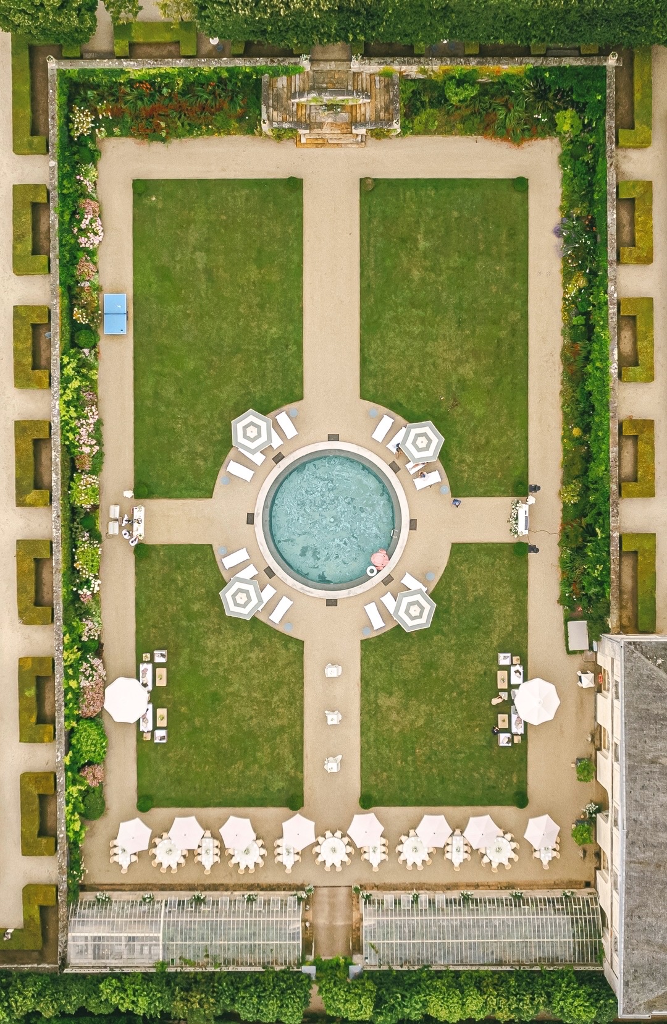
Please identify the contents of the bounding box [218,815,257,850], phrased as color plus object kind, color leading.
white umbrella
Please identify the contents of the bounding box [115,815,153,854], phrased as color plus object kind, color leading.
white umbrella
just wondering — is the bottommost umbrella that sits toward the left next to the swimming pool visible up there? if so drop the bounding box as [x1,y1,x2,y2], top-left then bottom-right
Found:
[219,576,263,619]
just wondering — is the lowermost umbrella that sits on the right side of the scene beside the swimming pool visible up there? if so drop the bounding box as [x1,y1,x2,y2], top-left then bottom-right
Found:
[392,587,436,631]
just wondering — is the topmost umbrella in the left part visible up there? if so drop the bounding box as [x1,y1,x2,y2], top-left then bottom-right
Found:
[231,409,271,454]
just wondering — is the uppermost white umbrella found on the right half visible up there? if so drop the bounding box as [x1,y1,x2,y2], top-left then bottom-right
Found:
[398,421,443,463]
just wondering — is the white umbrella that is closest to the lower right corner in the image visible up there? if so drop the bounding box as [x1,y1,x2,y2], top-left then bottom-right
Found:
[523,812,560,850]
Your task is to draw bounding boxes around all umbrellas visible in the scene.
[523,812,560,850]
[231,409,271,454]
[219,576,263,619]
[124,490,135,500]
[414,813,452,848]
[392,587,436,631]
[398,421,443,463]
[105,674,152,722]
[512,676,559,723]
[346,812,384,849]
[463,813,501,850]
[115,815,153,854]
[218,815,257,850]
[524,495,536,505]
[166,815,205,850]
[281,813,315,852]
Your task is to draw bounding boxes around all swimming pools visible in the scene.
[255,443,410,597]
